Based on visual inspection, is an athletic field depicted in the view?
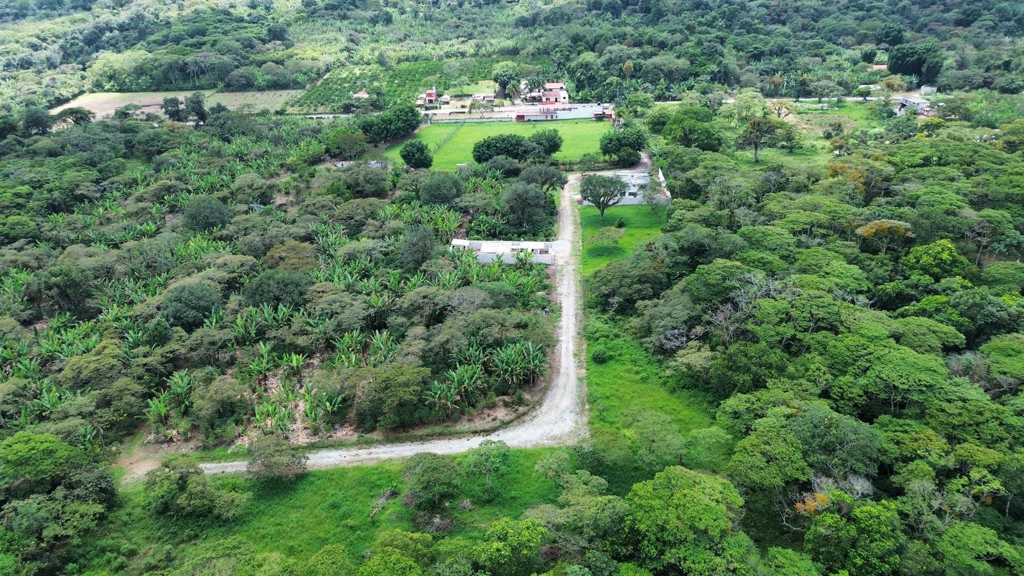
Yes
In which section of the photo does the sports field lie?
top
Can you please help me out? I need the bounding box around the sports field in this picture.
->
[370,118,621,176]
